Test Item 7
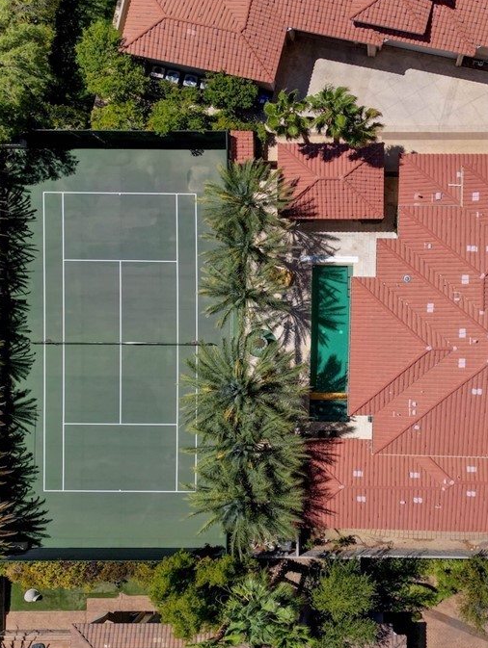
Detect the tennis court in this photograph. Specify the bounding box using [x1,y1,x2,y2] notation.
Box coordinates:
[1,141,235,549]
